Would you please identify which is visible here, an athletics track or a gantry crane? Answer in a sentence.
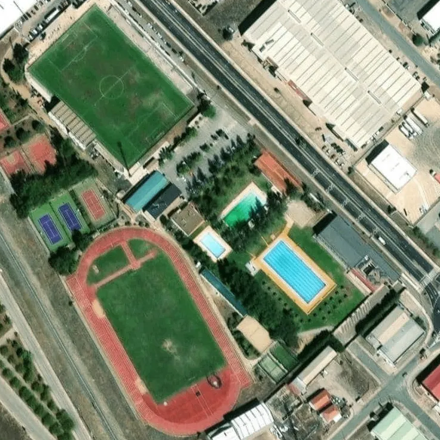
The one in the frame is an athletics track.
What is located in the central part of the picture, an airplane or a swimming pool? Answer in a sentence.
Visible in the central part of the picture is a swimming pool.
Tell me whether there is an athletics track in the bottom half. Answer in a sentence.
Yes, an athletics track shows up in the bottom half.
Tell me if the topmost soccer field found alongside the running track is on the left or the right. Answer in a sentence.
You can find the topmost soccer field found alongside the running track on the left side of the picture.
